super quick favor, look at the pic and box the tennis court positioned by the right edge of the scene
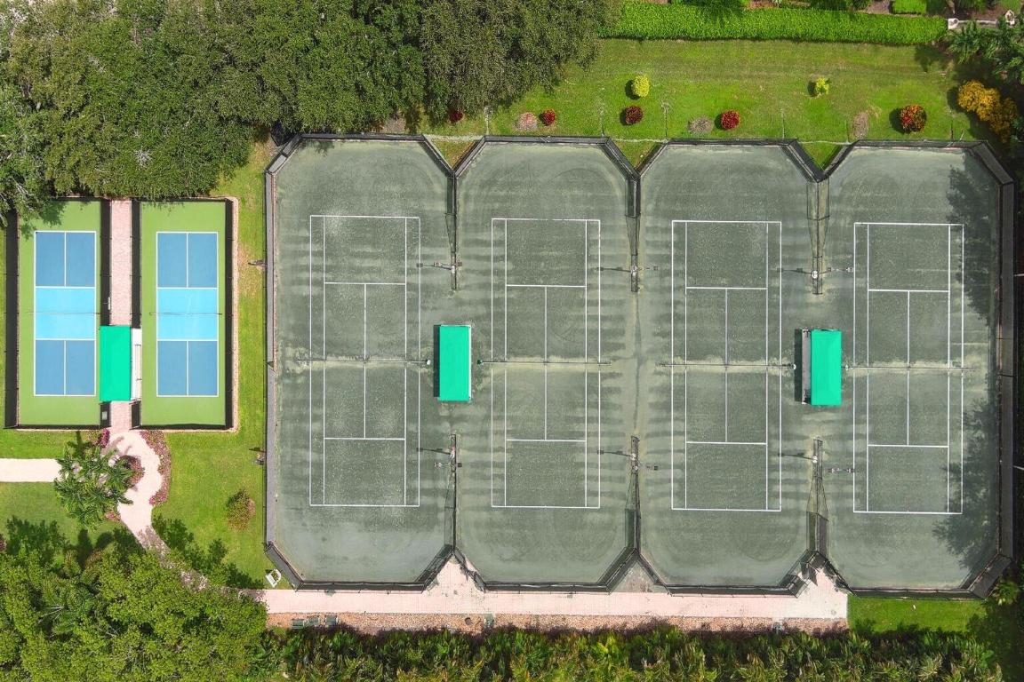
[816,148,996,589]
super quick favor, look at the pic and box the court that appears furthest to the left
[19,201,110,426]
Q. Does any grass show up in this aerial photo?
Yes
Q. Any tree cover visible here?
Yes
